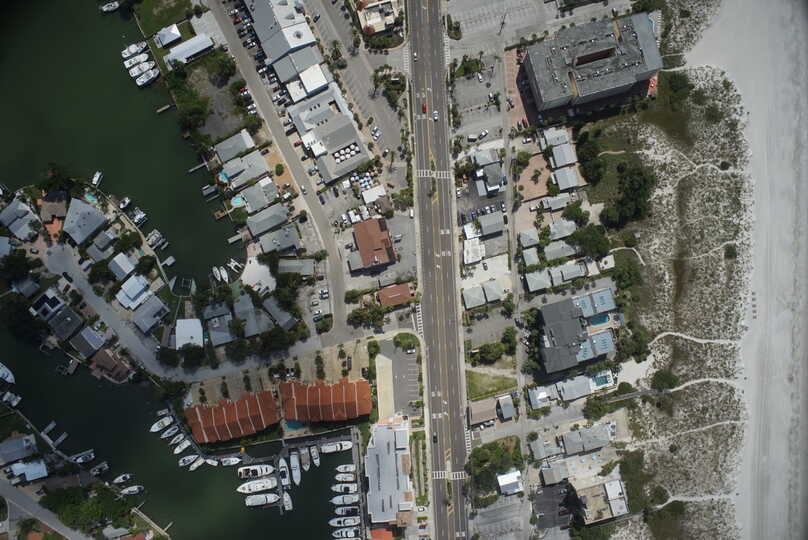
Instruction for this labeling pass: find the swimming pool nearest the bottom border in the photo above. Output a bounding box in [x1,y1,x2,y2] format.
[282,420,315,436]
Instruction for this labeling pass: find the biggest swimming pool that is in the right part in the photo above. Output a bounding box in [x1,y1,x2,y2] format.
[583,312,624,335]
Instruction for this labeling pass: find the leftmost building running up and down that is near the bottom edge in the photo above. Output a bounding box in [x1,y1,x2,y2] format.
[367,422,413,527]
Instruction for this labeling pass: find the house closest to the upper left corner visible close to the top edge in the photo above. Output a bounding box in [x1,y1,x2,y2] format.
[155,24,182,50]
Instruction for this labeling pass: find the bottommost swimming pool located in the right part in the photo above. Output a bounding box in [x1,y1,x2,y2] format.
[589,369,615,391]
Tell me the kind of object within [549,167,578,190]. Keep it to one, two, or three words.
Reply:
house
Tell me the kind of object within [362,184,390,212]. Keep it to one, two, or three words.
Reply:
building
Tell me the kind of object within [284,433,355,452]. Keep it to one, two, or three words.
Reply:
pier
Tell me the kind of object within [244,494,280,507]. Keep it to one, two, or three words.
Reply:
boat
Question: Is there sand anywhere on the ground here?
Yes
